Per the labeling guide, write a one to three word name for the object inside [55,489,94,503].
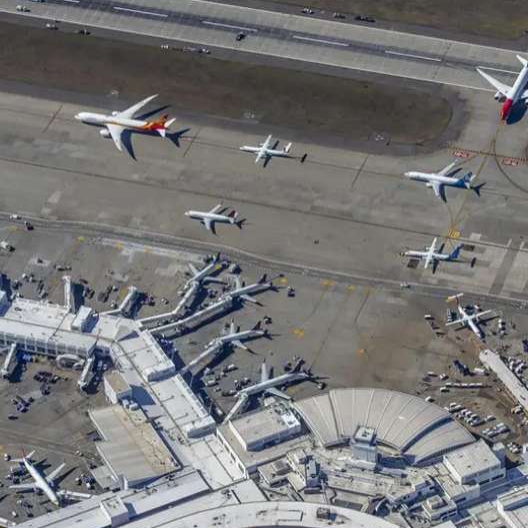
jet bridge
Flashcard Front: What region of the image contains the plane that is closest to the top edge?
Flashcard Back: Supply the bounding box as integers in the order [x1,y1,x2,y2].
[476,56,528,120]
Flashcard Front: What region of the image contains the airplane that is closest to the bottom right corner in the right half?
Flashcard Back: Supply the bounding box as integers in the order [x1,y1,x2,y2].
[445,294,492,338]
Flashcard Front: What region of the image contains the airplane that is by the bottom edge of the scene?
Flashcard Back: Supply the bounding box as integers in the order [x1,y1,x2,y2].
[6,448,67,507]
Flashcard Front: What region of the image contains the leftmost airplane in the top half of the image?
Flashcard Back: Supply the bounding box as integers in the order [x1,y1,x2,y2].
[78,96,180,151]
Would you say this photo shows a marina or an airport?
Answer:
airport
